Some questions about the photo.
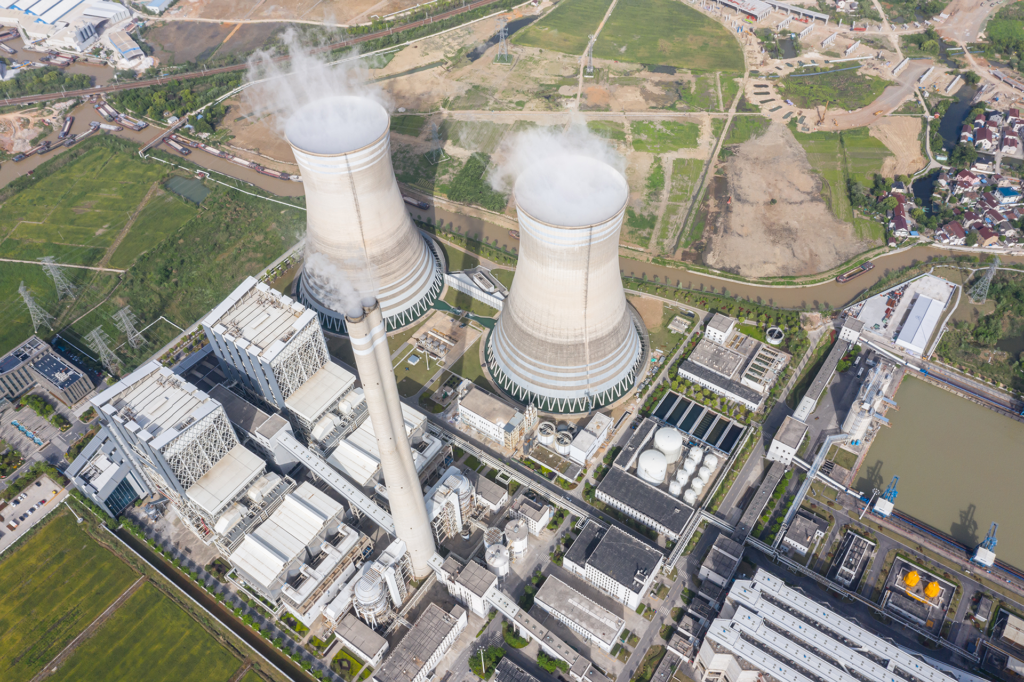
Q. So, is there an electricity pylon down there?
Yes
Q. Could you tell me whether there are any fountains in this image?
Yes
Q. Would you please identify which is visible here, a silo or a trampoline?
silo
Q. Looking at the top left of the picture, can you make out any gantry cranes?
No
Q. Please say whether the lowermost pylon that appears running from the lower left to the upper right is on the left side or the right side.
right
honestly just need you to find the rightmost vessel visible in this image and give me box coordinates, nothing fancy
[836,258,878,281]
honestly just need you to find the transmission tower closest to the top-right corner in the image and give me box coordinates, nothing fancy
[963,260,1006,306]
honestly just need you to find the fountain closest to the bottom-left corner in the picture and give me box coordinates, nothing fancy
[10,420,44,446]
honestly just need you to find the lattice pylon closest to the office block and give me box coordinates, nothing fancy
[85,331,126,379]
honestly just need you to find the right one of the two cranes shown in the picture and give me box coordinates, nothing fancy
[968,514,1010,572]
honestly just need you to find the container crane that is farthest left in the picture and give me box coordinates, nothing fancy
[870,466,908,522]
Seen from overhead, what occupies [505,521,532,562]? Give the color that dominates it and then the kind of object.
white silo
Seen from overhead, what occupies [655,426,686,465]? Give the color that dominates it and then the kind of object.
white storage tank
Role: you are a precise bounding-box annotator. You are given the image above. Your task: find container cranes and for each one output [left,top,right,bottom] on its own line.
[870,466,908,522]
[968,514,1010,572]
